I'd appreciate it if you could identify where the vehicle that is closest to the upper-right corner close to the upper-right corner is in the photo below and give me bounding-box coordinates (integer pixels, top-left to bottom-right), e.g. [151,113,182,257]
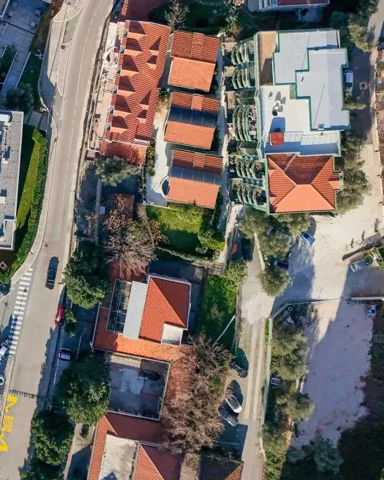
[343,70,355,95]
